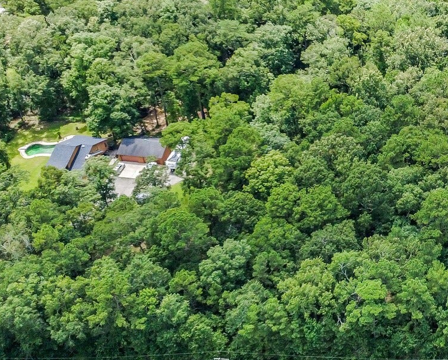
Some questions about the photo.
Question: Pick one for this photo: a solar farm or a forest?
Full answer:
This image shows a forest.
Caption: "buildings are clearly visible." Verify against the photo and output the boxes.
[116,135,170,163]
[43,137,108,172]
